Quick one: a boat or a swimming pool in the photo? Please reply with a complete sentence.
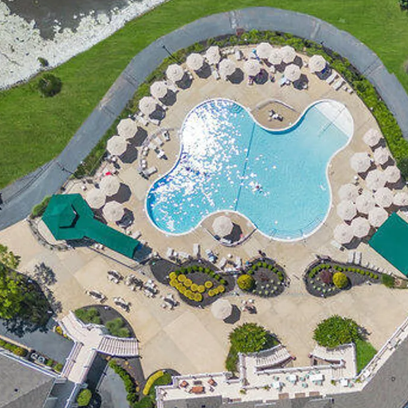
Visible in the photo is a swimming pool.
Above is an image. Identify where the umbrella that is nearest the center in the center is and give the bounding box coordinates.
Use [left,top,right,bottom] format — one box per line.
[212,216,232,237]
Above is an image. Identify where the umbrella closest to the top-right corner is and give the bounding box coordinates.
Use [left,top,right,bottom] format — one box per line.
[305,51,329,75]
